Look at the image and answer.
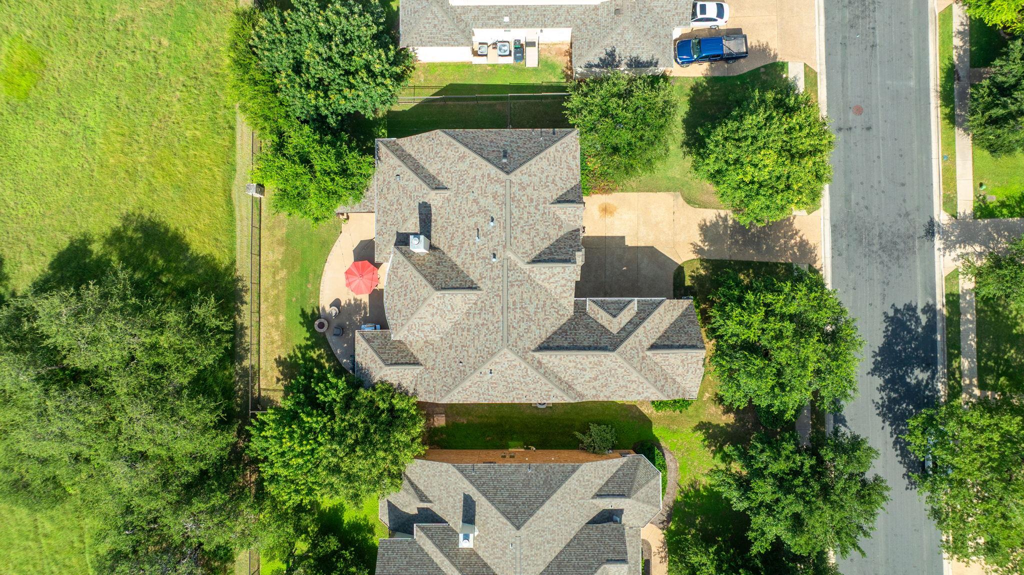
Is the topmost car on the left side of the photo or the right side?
right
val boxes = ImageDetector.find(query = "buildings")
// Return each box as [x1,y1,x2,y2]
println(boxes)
[331,127,706,405]
[375,450,663,575]
[399,0,690,80]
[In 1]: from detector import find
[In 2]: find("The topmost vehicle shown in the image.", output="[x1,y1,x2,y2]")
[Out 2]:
[690,1,730,31]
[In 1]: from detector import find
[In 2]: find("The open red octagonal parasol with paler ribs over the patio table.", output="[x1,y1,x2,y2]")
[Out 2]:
[346,260,380,294]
